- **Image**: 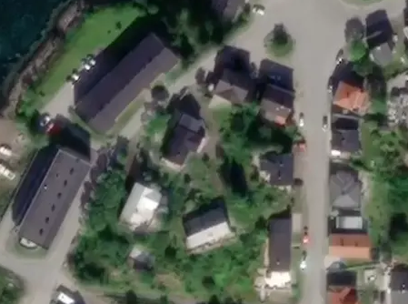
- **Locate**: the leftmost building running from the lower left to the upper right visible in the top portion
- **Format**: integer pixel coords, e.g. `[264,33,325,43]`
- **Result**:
[71,26,179,137]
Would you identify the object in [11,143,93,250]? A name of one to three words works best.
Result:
building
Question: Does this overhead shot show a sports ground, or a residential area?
residential area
